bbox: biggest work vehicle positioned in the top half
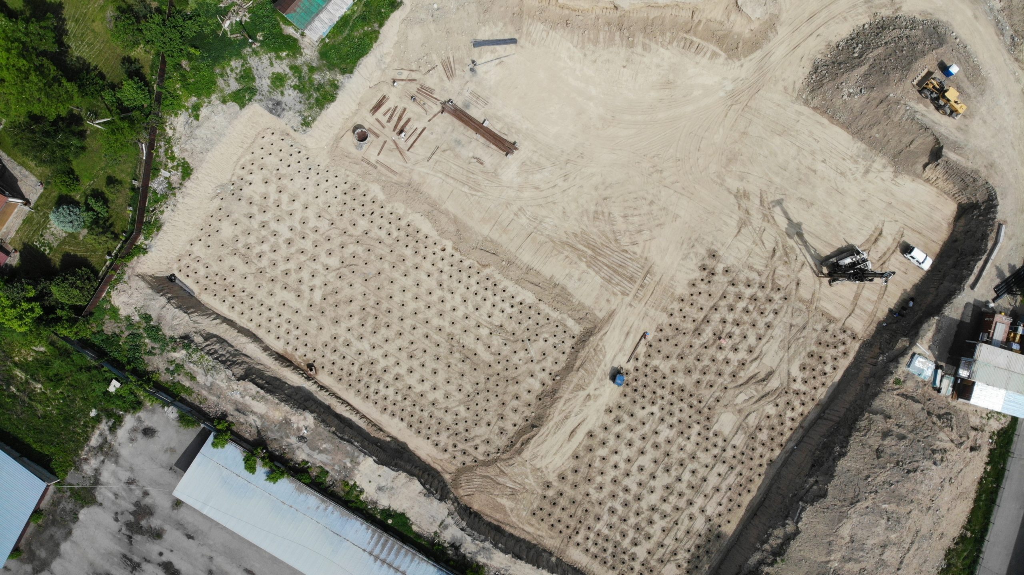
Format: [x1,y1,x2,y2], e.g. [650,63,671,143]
[909,66,975,115]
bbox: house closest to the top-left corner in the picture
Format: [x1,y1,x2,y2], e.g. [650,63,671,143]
[0,189,34,231]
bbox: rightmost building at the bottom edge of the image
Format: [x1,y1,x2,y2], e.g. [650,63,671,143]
[172,440,469,575]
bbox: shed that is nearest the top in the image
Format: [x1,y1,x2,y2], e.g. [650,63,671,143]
[273,0,359,47]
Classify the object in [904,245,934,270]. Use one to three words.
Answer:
car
